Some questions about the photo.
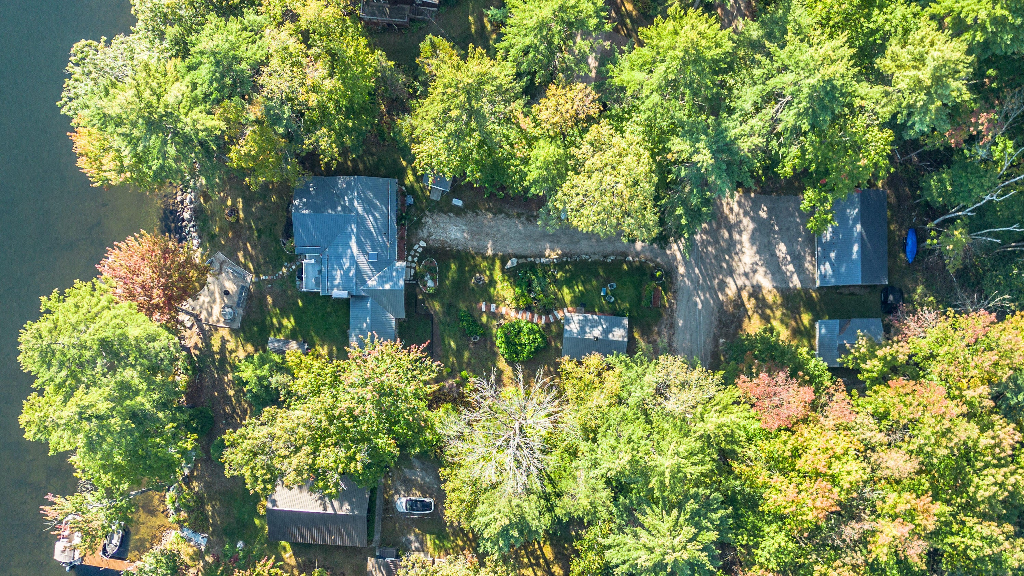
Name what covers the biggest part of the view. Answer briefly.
trees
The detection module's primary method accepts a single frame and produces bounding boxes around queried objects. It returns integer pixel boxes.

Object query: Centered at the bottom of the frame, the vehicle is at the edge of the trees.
[396,497,434,516]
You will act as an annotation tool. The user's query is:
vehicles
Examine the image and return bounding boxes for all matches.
[881,282,903,319]
[396,497,434,516]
